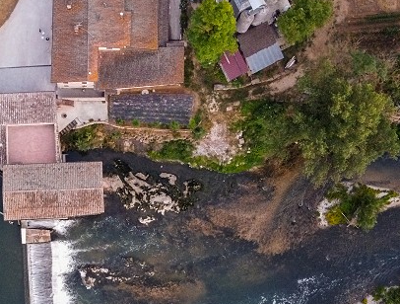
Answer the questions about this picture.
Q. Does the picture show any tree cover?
Yes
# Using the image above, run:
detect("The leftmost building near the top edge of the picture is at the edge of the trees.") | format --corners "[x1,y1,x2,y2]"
[51,0,185,93]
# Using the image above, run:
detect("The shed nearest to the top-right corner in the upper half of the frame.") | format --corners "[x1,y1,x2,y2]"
[236,23,284,77]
